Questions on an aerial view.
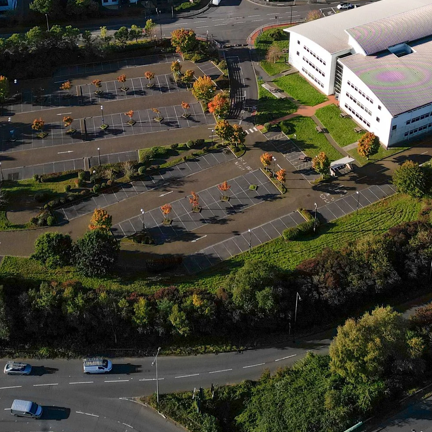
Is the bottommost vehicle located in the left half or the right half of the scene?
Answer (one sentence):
The bottommost vehicle sits on the left side.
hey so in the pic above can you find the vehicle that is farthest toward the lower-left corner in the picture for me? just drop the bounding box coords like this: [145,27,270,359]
[9,400,44,421]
